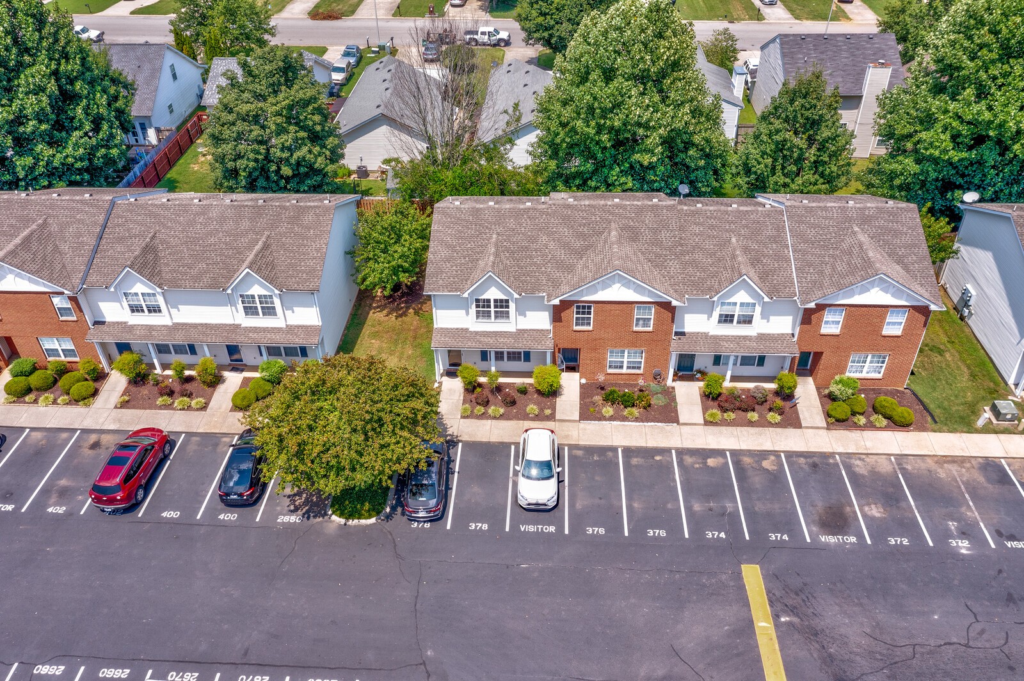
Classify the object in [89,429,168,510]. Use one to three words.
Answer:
car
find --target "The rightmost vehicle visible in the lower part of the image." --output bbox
[516,428,562,510]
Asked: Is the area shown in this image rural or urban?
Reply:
urban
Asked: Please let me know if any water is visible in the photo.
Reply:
No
